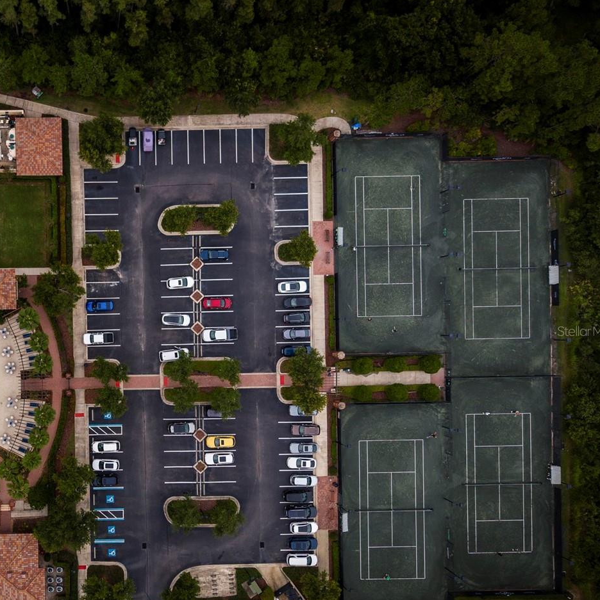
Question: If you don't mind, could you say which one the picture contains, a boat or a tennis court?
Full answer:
It is a tennis court that can be seen here.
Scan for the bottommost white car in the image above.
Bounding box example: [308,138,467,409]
[285,552,317,567]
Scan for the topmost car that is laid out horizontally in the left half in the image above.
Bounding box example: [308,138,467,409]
[200,247,228,261]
